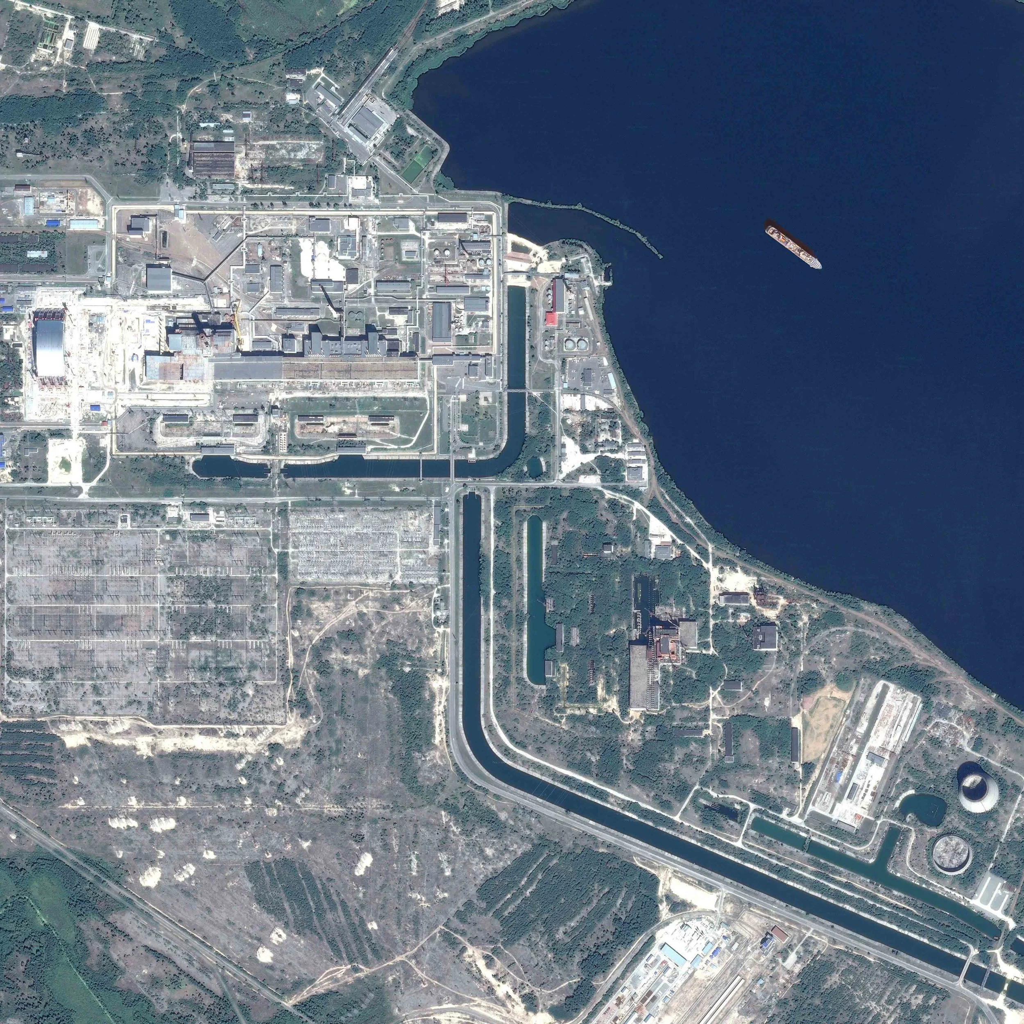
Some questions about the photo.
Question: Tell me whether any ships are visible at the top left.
No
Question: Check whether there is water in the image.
Yes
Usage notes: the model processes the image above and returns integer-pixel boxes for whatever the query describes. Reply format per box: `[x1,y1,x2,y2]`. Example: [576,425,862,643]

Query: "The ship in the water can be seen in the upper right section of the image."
[765,227,822,269]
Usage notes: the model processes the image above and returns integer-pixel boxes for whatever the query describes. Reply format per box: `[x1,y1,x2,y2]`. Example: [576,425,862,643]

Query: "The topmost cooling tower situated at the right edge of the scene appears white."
[957,771,1000,814]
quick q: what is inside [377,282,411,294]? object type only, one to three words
building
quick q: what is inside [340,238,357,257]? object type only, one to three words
building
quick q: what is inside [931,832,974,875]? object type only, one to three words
cooling tower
